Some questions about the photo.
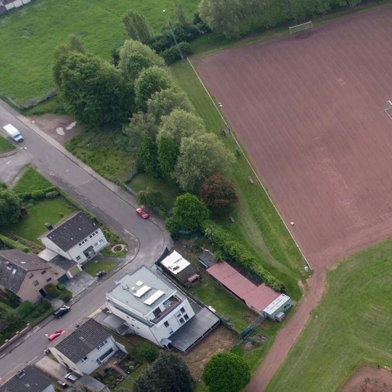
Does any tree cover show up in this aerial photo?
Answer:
Yes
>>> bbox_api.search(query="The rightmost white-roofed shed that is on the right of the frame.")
[262,294,292,322]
